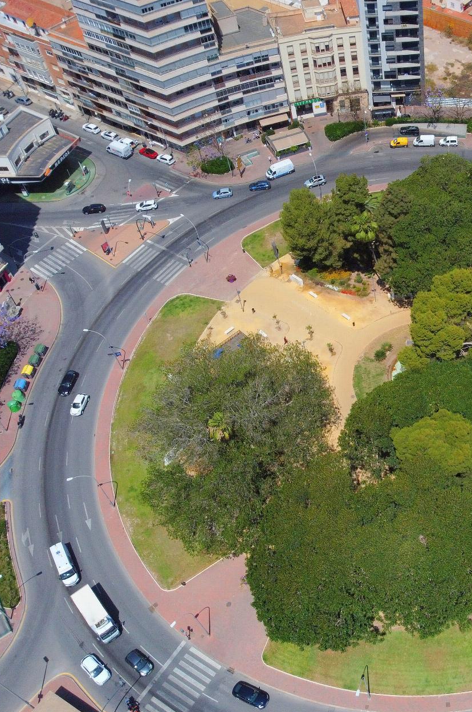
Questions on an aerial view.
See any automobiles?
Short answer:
Yes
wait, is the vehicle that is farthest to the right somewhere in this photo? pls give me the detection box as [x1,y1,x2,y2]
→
[438,136,459,148]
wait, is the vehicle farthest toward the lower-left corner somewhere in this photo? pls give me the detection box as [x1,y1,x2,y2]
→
[80,653,110,687]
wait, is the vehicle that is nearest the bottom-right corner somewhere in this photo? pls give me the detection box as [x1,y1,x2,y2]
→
[231,683,269,708]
